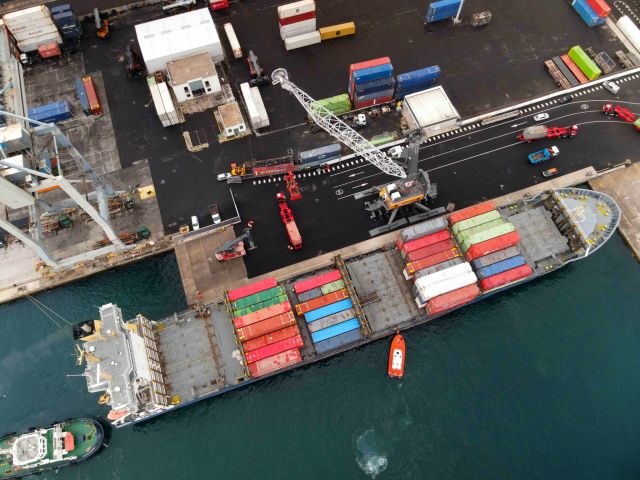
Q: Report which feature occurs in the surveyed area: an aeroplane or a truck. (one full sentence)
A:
Looking from above, you can make out a truck.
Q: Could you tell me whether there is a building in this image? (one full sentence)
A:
Yes, looking at the shot, I can spot a building.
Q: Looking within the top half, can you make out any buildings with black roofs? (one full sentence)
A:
No, within the top half there is no building with a black roof.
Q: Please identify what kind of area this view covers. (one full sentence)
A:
The picture captures a port.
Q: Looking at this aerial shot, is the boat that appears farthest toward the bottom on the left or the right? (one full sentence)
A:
The boat that appears farthest toward the bottom sits on the left side.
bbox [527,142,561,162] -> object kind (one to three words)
vehicle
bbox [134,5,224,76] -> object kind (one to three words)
building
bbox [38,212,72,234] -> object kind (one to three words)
truck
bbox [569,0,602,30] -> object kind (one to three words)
shipping container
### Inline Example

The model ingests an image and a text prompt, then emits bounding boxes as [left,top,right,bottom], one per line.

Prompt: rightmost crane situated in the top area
[268,63,446,238]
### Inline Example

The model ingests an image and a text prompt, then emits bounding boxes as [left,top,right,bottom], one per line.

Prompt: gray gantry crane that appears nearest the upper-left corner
[0,106,137,274]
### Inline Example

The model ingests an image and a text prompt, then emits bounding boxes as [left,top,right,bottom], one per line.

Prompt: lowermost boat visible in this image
[0,412,106,480]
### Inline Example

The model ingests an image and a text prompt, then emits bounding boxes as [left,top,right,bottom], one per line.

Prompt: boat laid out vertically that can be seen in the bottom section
[390,333,406,381]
